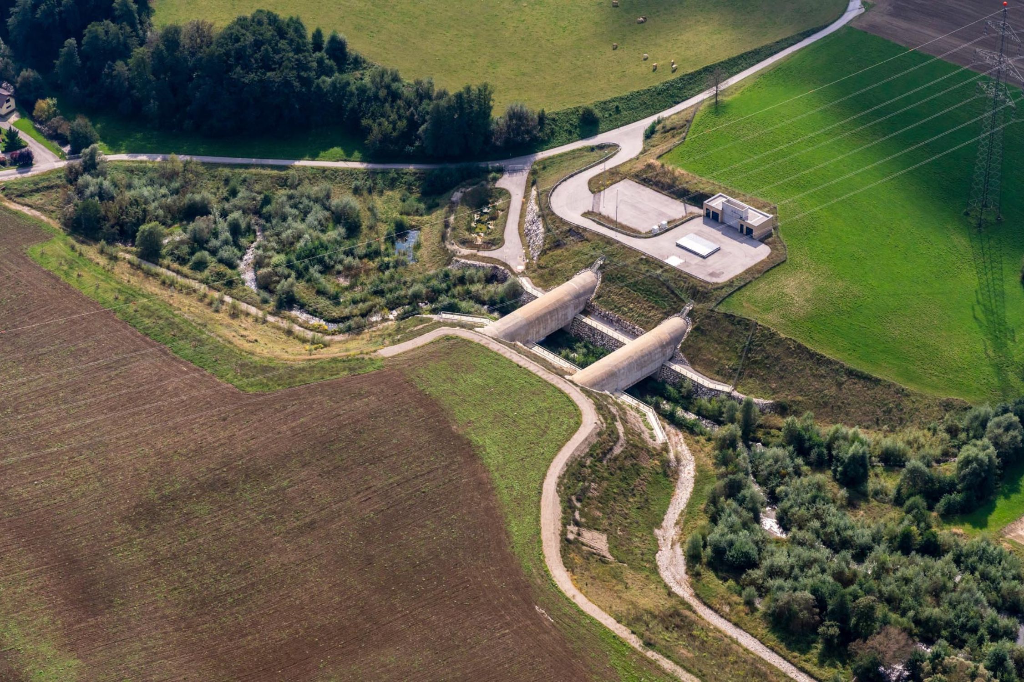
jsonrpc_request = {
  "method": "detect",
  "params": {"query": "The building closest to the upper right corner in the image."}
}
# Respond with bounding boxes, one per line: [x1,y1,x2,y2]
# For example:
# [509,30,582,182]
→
[703,193,772,240]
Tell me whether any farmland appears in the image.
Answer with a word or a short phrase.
Yes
